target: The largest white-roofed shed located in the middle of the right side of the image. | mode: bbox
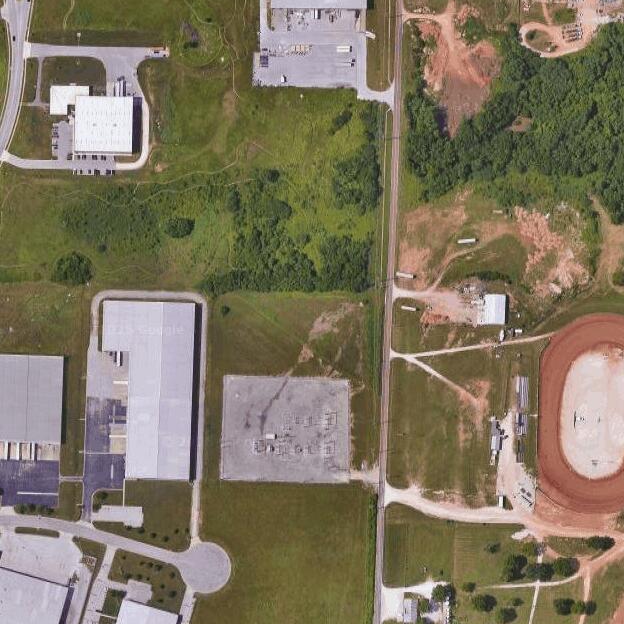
[483,294,506,325]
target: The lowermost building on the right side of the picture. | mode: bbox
[403,599,418,624]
